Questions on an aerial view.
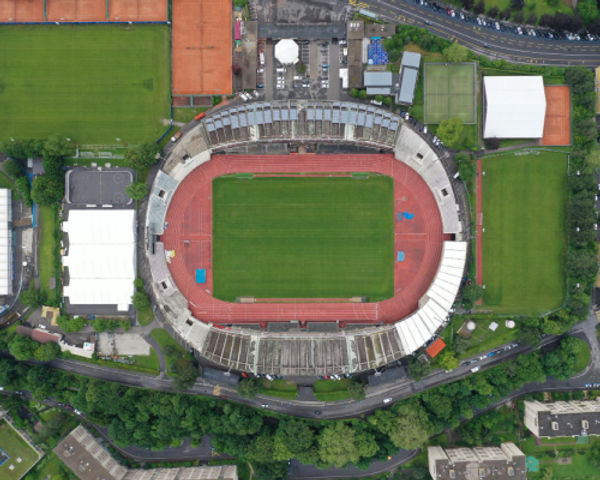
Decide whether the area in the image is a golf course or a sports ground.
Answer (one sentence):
What you see here is a sports ground.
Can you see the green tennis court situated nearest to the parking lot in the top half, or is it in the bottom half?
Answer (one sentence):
The green tennis court situated nearest to the parking lot sits in the top half of the picture.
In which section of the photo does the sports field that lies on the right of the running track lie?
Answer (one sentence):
The sports field that lies on the right of the running track is in the right part of the image.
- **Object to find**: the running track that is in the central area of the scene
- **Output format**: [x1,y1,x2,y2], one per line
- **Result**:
[163,154,443,323]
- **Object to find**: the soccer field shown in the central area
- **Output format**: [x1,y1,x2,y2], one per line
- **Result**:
[212,173,394,303]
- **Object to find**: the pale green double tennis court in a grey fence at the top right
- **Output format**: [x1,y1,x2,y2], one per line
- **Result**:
[425,63,475,124]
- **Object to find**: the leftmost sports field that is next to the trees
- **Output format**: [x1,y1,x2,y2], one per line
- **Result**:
[0,25,169,146]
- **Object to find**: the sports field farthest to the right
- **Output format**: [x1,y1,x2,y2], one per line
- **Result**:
[476,151,569,313]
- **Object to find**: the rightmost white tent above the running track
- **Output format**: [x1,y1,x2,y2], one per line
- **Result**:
[275,41,298,66]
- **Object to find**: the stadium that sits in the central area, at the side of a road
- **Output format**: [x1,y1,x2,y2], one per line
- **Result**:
[144,98,468,379]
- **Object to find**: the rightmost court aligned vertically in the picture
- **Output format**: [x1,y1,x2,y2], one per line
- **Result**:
[541,86,570,145]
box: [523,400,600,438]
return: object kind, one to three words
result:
building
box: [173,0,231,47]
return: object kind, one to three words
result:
tennis court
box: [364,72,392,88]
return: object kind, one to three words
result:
building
